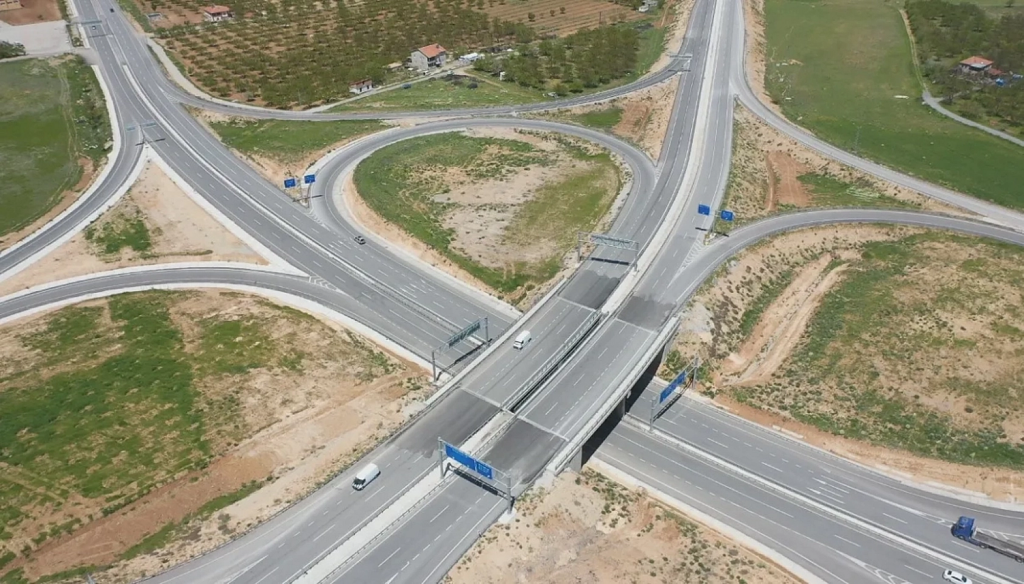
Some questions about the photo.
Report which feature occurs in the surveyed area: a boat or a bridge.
bridge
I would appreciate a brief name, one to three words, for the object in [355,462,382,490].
vehicle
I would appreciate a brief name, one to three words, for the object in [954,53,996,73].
house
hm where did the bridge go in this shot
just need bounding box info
[406,264,687,486]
